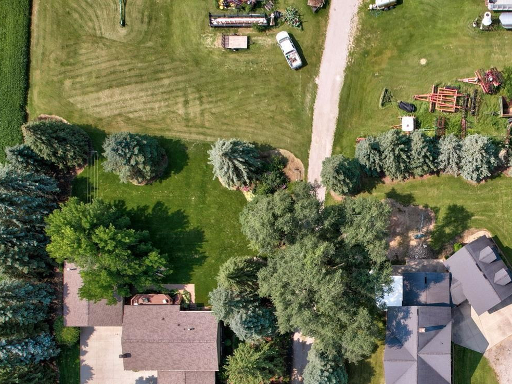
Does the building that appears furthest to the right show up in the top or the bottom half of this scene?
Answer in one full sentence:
Seen from above, the building that appears furthest to the right lies in the bottom half of the view.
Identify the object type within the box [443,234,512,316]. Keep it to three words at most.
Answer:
building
